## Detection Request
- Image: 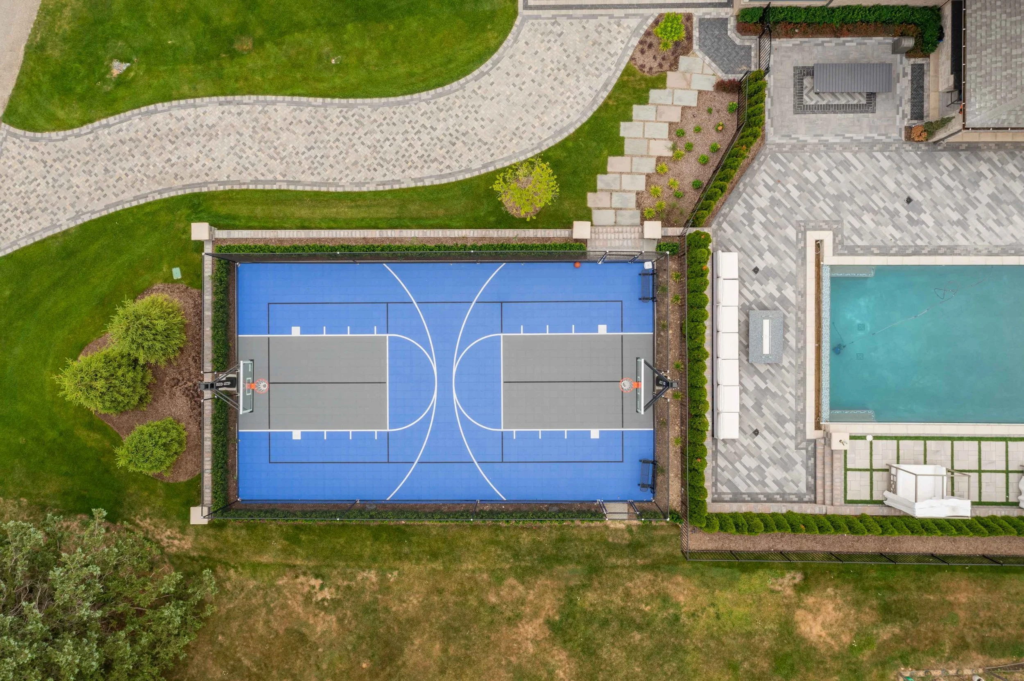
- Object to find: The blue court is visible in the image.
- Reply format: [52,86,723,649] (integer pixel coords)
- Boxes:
[237,263,653,504]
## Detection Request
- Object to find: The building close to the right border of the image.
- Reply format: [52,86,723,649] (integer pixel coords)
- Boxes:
[736,0,1024,142]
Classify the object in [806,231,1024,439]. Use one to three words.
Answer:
swimming pool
